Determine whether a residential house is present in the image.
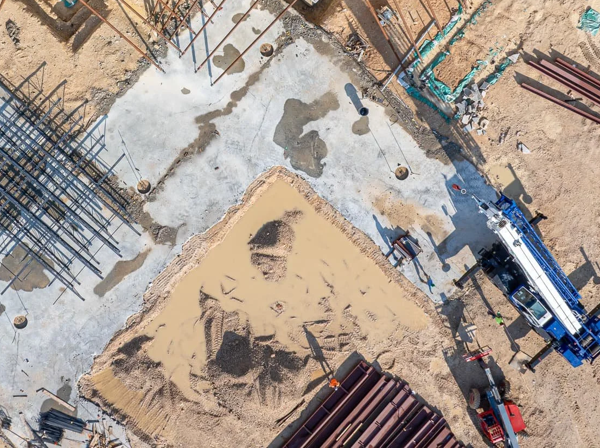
No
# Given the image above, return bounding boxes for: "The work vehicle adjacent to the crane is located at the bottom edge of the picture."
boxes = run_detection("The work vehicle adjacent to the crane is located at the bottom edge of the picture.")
[463,333,533,448]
